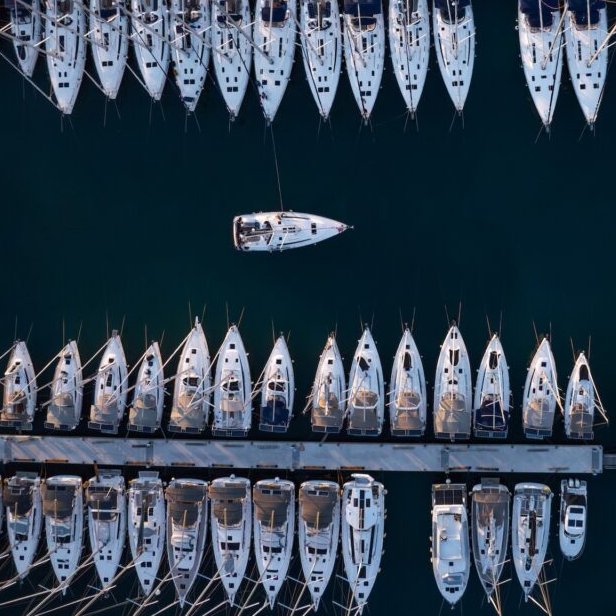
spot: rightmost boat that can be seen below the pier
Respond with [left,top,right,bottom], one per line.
[556,479,588,574]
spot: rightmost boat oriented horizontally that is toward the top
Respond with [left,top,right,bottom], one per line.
[231,211,352,252]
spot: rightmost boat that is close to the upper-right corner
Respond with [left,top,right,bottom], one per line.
[562,0,616,152]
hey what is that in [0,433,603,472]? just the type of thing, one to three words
pier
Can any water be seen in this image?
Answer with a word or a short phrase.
Yes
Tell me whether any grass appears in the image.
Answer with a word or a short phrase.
No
